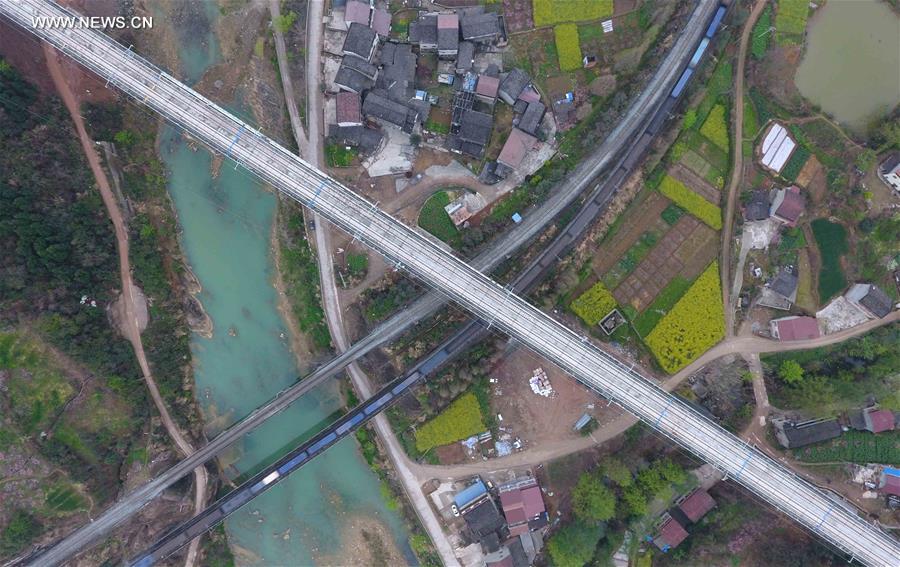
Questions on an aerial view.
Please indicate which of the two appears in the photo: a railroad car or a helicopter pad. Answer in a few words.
railroad car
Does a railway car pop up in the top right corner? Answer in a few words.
Yes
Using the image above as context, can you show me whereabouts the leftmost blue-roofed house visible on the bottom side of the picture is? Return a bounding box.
[454,476,488,508]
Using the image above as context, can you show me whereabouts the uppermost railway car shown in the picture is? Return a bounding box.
[701,6,724,41]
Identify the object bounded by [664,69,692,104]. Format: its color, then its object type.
blue rail car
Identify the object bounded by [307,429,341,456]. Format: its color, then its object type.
blue rail car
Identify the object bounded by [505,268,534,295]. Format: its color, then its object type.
gray rail car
